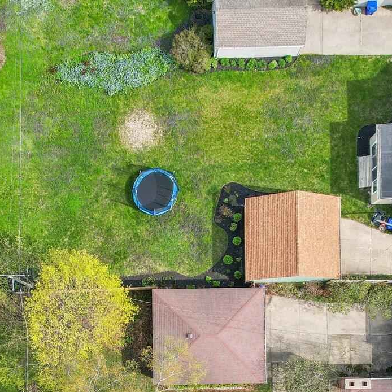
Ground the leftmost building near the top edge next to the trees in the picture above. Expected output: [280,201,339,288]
[215,0,310,56]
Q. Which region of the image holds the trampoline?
center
